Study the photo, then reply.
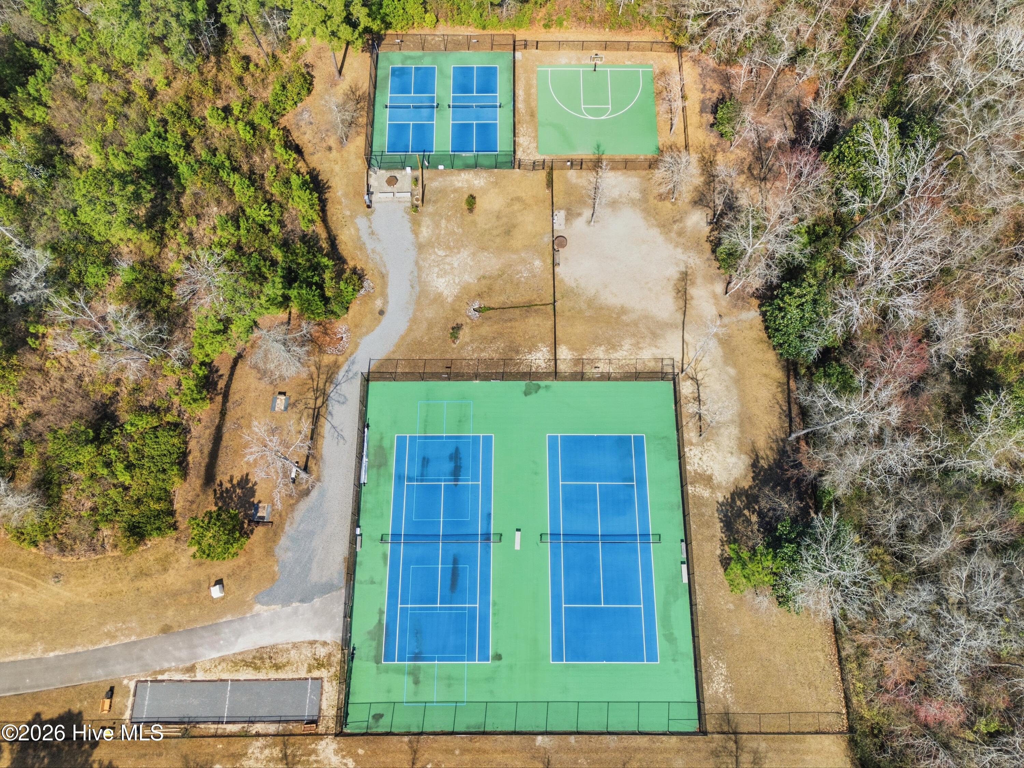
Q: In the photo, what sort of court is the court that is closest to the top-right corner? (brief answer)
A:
basketball court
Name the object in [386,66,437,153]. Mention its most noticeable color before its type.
blue sports court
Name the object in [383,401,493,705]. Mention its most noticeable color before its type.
blue tennis court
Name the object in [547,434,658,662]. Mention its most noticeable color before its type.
blue tennis court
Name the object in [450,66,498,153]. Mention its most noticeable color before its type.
blue sports court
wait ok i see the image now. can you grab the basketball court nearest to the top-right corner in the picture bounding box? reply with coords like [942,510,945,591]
[537,64,659,154]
